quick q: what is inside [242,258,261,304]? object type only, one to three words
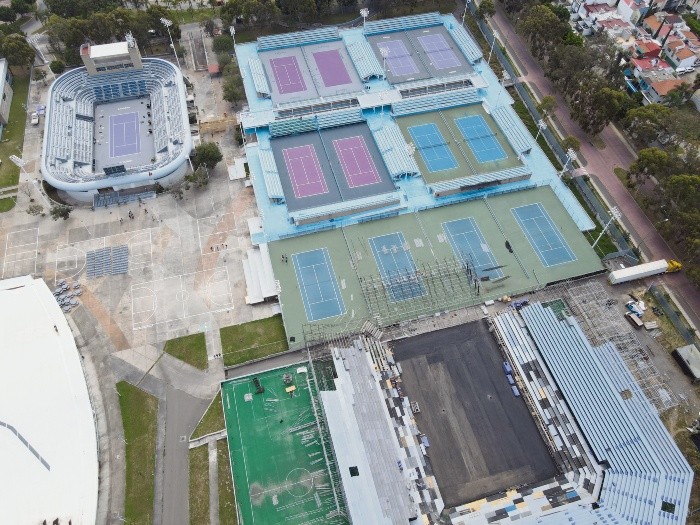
shed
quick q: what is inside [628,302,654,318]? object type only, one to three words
vehicle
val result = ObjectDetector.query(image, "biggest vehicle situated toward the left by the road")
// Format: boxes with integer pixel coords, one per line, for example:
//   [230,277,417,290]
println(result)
[254,376,266,400]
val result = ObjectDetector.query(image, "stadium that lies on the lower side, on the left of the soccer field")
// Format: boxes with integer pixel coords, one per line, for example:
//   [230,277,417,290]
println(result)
[0,280,98,525]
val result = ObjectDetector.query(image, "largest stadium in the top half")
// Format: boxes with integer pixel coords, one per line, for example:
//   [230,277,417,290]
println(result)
[40,55,193,208]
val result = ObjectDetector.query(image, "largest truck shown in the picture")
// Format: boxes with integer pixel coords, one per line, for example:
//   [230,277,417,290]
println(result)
[600,258,680,280]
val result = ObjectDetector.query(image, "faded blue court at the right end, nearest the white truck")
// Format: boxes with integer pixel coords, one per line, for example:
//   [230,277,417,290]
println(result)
[486,185,604,286]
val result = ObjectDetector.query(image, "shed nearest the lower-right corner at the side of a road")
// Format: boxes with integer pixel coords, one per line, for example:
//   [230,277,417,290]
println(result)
[671,337,700,389]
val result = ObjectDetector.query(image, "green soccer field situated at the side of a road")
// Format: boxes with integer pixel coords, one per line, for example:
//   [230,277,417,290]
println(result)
[221,360,349,525]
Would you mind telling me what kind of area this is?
sports ground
